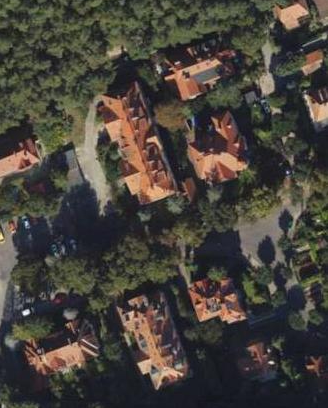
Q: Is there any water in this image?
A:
No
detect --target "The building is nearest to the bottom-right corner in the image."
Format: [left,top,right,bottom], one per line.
[299,348,328,383]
